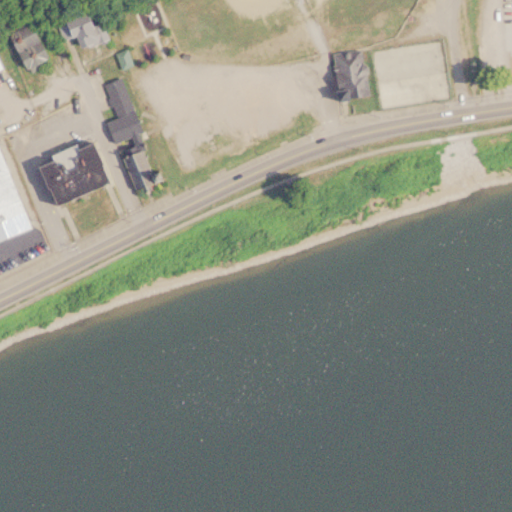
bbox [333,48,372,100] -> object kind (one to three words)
house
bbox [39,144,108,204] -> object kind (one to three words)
building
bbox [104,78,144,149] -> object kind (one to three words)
building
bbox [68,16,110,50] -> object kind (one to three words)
house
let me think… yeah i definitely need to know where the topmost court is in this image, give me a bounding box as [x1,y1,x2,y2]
[373,42,444,83]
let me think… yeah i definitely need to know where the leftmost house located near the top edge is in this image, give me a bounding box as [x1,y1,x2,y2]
[12,25,46,71]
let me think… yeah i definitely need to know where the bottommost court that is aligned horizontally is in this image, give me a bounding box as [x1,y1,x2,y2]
[376,73,448,109]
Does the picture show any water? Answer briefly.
Yes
